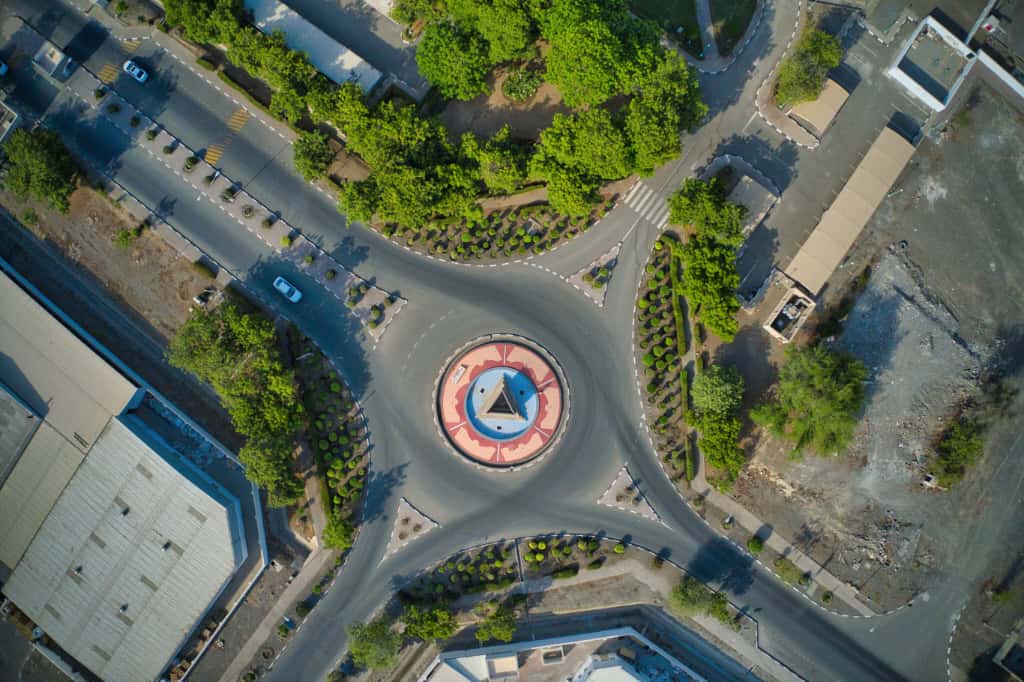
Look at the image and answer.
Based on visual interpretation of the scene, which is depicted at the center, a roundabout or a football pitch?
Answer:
roundabout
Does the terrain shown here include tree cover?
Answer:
Yes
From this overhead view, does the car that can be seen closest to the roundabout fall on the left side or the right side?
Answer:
left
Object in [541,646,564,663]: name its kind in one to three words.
building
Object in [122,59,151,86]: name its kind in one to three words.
car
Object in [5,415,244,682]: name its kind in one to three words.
warehouse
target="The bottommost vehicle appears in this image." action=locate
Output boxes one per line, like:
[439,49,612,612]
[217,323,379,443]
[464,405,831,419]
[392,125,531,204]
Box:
[273,276,303,303]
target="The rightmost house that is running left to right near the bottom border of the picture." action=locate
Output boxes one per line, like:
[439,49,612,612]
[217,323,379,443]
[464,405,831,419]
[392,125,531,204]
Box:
[570,646,651,682]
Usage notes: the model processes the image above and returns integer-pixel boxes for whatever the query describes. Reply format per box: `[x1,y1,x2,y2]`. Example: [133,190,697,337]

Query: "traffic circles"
[370,270,633,534]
